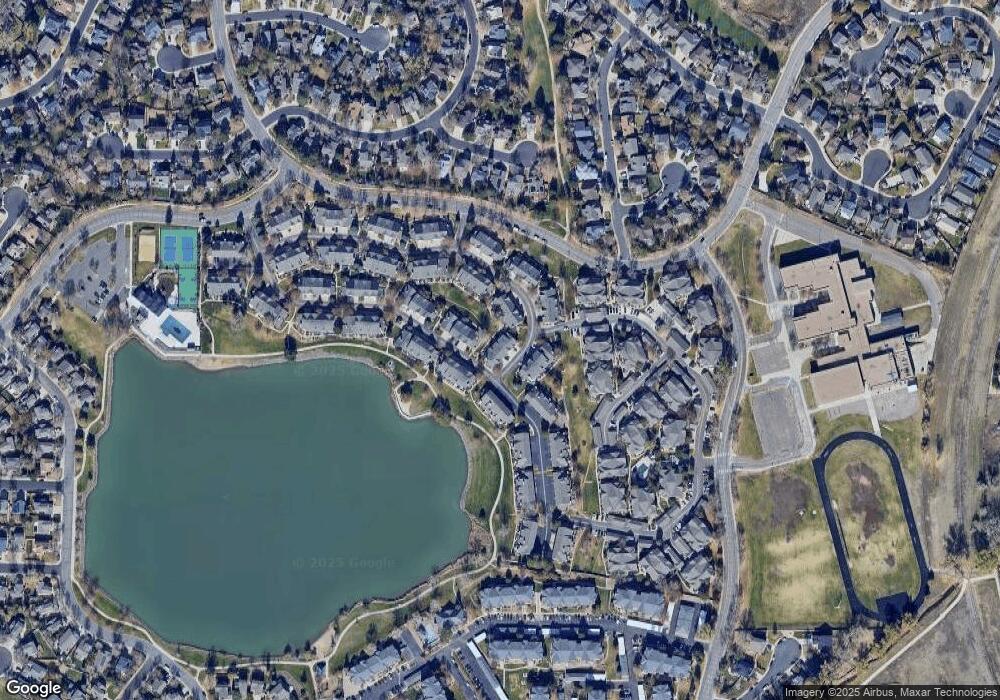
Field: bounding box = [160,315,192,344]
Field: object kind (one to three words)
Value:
swimming pool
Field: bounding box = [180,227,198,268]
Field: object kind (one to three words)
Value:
tennis court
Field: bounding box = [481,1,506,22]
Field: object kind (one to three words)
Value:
house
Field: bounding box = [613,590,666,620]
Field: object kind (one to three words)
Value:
building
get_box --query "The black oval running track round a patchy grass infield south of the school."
[813,432,930,627]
